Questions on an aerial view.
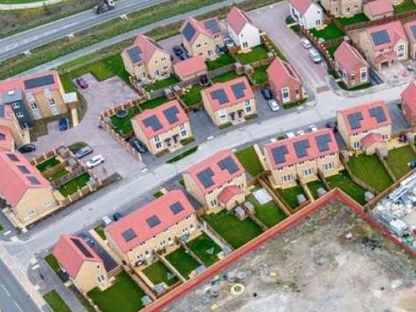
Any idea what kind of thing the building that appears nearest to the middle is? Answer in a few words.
residential house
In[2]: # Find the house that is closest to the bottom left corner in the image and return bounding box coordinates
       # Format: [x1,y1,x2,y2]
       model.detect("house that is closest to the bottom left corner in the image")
[47,234,113,296]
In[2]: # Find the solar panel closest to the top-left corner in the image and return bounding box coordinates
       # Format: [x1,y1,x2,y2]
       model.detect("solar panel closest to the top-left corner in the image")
[26,74,58,91]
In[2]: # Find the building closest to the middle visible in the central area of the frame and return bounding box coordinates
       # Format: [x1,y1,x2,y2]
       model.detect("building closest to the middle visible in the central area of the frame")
[175,148,244,206]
